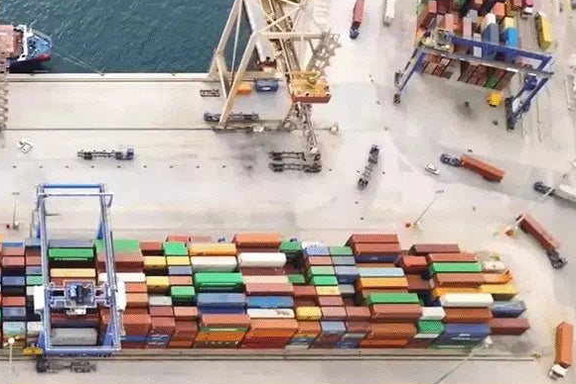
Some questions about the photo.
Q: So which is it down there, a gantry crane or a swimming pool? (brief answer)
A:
gantry crane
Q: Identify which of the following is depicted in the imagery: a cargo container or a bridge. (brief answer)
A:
cargo container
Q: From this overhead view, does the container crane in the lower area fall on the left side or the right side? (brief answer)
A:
left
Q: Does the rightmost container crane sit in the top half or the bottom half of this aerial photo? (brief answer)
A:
top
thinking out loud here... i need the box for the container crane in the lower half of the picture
[30,185,130,357]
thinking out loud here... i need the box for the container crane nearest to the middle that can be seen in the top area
[197,0,346,165]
